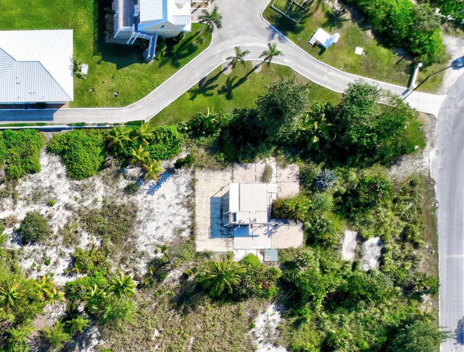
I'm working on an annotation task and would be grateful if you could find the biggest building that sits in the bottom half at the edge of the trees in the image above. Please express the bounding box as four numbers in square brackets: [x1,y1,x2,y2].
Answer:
[205,183,277,252]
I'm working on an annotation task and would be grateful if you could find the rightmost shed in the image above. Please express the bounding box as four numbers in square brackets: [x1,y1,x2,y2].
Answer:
[310,27,339,49]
